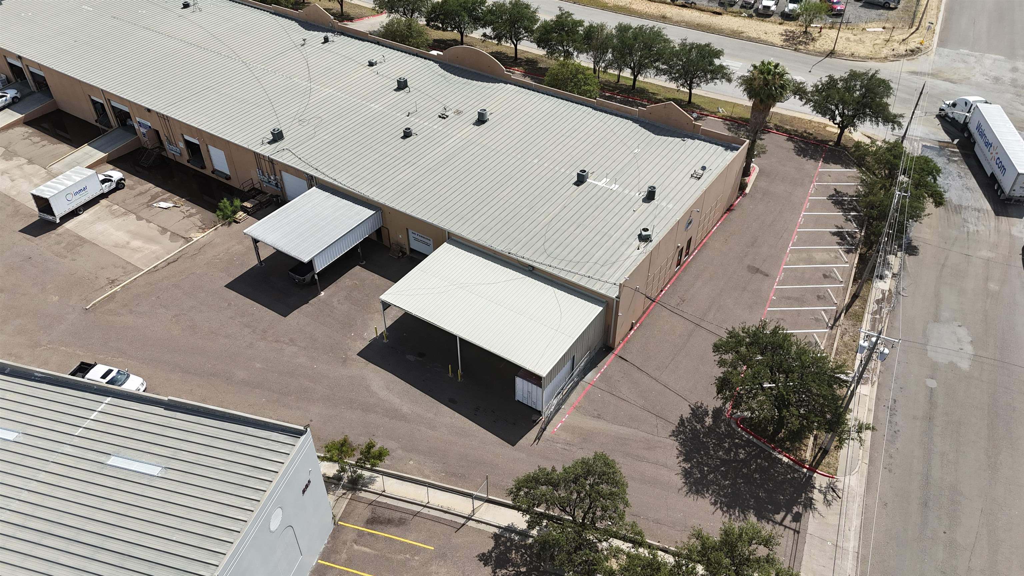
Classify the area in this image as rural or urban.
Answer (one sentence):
It looks urban.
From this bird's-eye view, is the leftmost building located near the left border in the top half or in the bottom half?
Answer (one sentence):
The leftmost building located near the left border sits in the bottom half of the picture.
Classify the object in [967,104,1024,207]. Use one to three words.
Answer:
trailer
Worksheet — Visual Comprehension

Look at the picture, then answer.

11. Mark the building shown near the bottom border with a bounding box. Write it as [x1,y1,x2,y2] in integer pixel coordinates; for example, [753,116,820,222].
[0,359,333,576]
